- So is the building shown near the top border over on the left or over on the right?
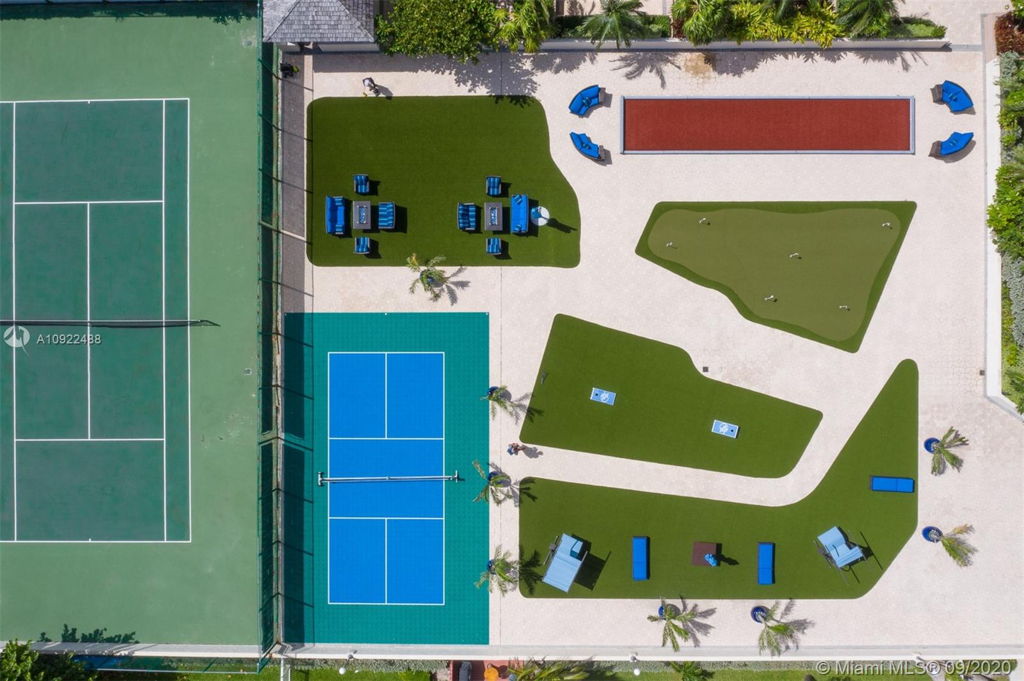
left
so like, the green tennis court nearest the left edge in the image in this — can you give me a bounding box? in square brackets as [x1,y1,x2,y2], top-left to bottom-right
[0,1,277,643]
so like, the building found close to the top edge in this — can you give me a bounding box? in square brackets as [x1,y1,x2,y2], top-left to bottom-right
[263,0,385,51]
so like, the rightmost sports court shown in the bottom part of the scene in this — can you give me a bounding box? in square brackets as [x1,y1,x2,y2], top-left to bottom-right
[284,312,490,645]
